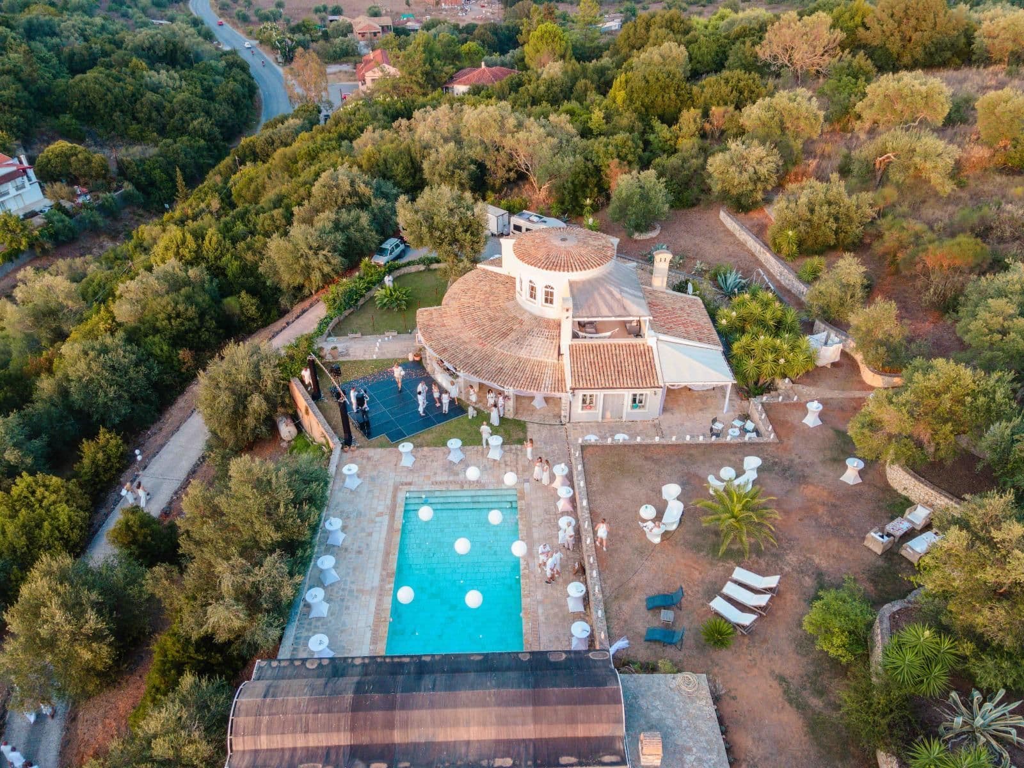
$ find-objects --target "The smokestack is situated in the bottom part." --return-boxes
[641,730,670,767]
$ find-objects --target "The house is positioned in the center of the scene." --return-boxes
[412,228,725,426]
